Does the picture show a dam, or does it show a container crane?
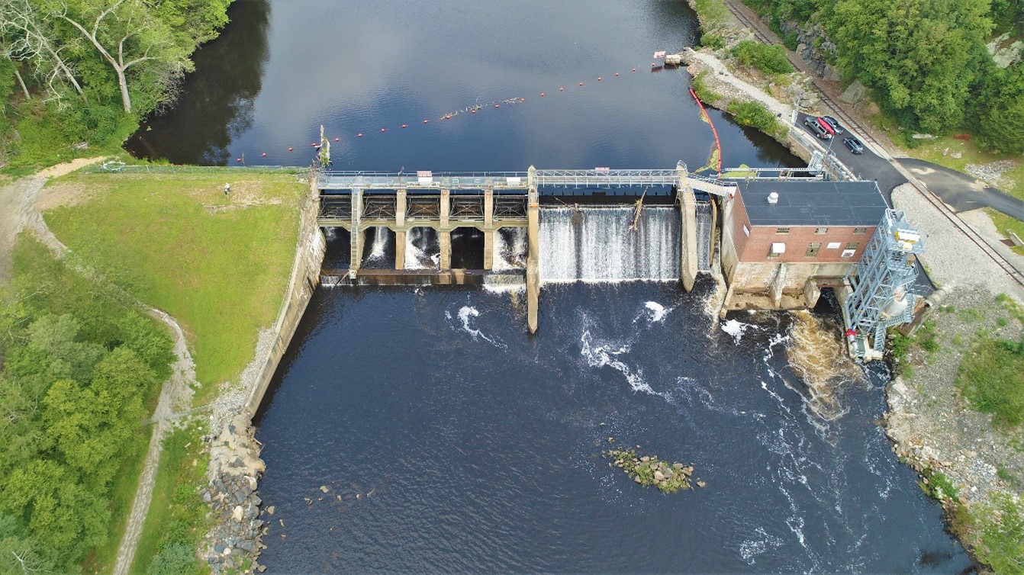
dam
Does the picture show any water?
Yes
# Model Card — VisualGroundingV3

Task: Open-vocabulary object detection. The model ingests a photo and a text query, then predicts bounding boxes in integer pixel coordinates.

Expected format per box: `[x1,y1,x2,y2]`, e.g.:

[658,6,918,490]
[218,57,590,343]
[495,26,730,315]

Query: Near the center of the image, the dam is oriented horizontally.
[313,164,722,331]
